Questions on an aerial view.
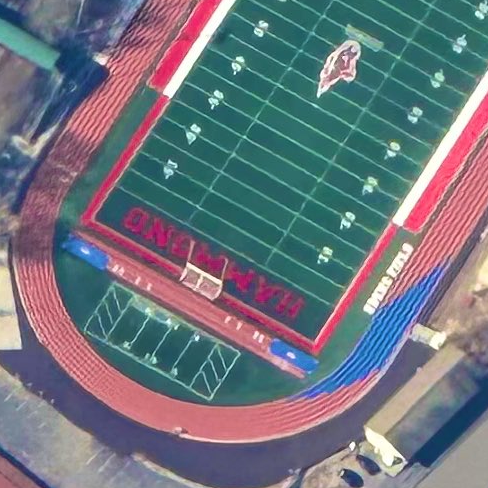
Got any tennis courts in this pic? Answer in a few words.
No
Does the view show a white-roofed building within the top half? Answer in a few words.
No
